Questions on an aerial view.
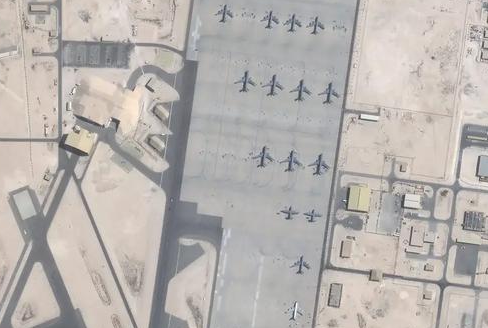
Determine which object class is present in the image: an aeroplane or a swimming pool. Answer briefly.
aeroplane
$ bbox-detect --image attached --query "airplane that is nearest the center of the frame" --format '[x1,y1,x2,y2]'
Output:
[253,146,274,167]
